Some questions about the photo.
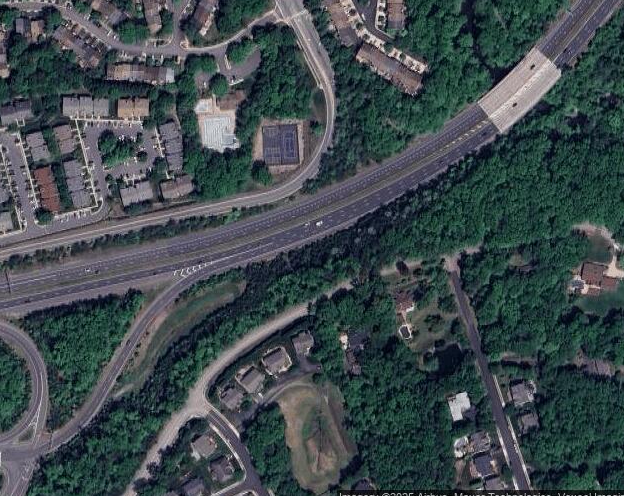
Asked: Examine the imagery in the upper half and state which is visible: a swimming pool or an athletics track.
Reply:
swimming pool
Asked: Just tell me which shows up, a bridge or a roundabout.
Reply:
bridge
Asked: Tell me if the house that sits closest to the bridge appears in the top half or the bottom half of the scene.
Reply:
top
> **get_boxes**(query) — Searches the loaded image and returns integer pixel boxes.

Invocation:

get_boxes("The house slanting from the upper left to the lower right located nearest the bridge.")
[361,43,425,92]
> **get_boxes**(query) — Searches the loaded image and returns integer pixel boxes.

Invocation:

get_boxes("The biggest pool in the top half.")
[196,99,240,151]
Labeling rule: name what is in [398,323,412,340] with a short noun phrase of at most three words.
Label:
swimming pool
